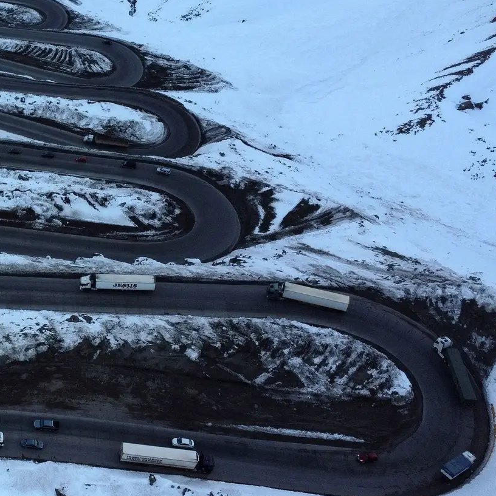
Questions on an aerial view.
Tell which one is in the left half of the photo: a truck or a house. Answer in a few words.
truck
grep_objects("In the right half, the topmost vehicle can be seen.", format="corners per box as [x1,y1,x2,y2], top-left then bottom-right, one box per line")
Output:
[263,286,353,311]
